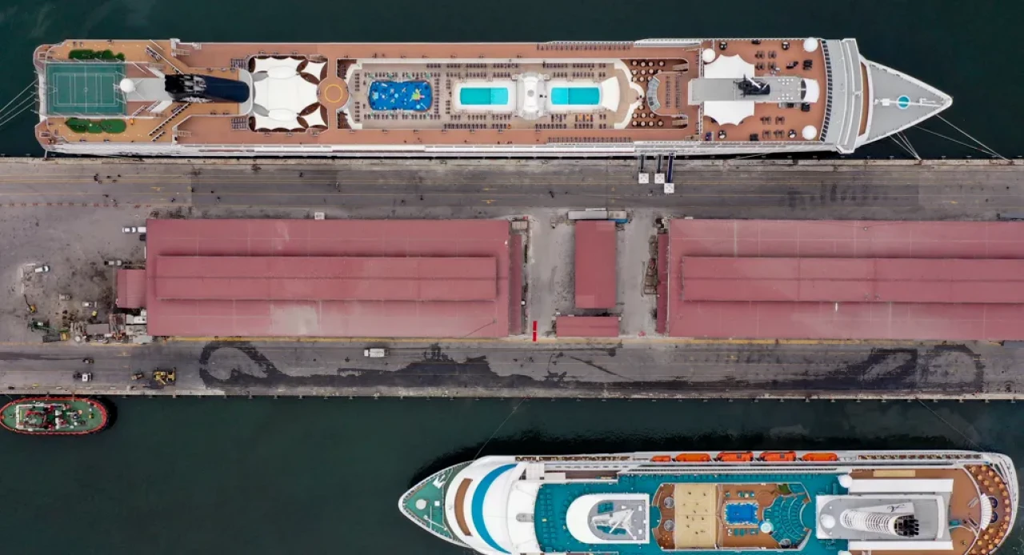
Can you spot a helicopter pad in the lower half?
No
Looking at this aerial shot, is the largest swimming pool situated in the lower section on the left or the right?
right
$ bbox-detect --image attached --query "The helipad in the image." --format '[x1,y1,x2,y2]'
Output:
[318,78,351,110]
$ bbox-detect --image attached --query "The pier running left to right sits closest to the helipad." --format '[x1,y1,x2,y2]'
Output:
[0,155,1024,400]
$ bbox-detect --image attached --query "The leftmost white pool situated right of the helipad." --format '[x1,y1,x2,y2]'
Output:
[453,80,516,112]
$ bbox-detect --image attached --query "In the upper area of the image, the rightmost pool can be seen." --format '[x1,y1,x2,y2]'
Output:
[548,80,605,112]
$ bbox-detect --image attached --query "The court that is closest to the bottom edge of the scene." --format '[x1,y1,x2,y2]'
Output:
[674,483,718,550]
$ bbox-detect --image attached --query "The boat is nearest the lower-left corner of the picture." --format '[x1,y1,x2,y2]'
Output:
[0,398,108,435]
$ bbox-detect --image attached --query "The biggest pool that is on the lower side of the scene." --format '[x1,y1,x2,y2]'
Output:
[724,502,759,525]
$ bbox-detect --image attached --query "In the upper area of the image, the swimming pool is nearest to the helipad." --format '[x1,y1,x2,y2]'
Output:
[367,80,433,113]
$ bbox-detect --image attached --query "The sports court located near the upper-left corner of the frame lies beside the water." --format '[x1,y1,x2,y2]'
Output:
[33,56,126,115]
